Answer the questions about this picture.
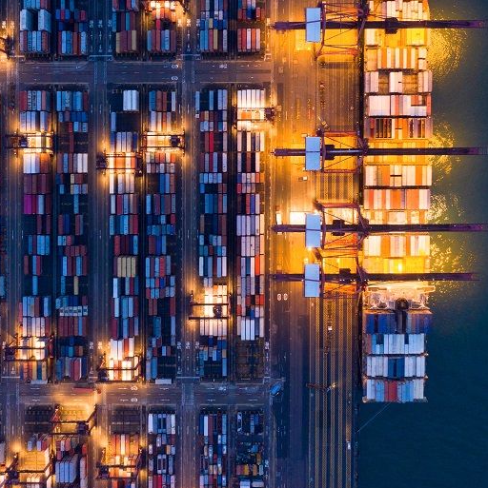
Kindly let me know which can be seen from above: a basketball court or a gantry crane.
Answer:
gantry crane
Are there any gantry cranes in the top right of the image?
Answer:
Yes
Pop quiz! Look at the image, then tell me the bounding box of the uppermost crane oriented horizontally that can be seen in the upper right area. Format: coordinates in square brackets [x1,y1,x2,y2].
[273,3,488,59]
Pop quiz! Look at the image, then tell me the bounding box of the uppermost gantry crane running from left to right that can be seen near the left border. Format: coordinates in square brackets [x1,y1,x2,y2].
[2,132,54,151]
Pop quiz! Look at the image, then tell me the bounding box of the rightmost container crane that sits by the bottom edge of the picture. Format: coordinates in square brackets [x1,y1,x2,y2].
[95,449,141,481]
